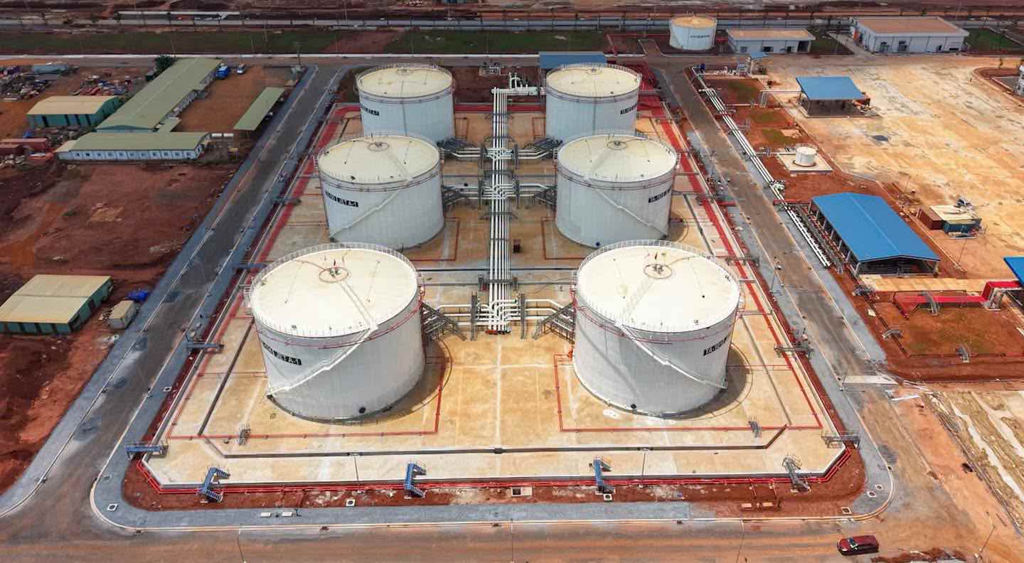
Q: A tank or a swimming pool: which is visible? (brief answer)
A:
tank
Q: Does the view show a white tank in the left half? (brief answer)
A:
Yes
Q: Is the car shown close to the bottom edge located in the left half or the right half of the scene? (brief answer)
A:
right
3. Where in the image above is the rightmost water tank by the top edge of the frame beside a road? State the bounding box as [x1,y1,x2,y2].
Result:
[670,13,722,51]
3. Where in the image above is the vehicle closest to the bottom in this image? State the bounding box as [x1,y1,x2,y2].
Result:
[839,534,884,557]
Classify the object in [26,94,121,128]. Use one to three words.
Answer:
shed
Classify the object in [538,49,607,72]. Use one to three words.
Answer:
building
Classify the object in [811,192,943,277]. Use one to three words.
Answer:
shed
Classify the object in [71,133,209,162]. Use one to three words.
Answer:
building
